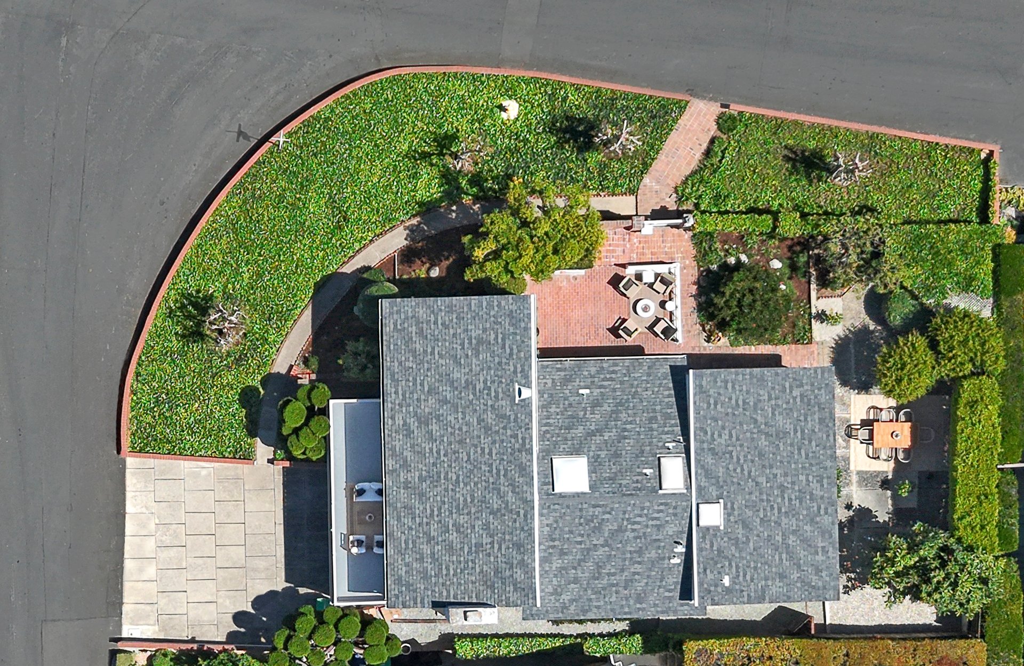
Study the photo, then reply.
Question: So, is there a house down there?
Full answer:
Yes, the picture does show a house.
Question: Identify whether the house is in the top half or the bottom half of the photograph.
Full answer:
The house is in the bottom half of the image.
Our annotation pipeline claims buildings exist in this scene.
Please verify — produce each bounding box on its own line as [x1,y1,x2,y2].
[324,294,840,624]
